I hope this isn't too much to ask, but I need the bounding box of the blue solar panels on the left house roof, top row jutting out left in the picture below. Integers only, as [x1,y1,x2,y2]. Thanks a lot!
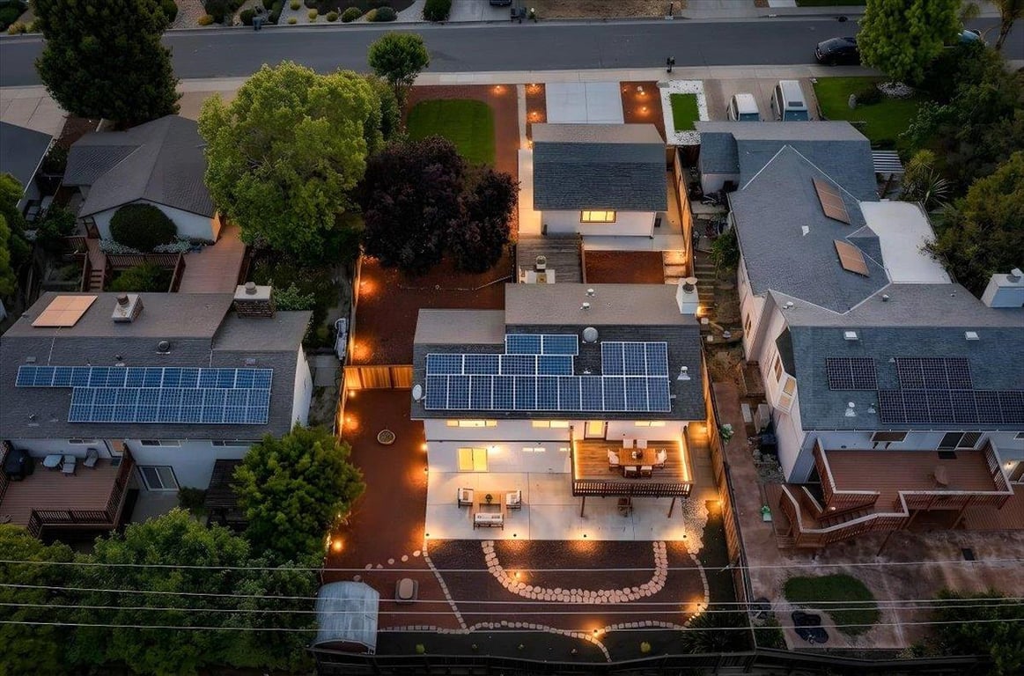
[15,365,272,423]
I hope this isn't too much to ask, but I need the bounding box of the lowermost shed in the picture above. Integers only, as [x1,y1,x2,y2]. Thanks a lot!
[316,581,381,649]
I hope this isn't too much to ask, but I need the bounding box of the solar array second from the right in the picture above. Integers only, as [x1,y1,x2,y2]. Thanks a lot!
[424,334,672,411]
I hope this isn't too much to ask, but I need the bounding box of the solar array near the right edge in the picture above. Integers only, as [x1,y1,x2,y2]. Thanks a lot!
[827,357,1024,423]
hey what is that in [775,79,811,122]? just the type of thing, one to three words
van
